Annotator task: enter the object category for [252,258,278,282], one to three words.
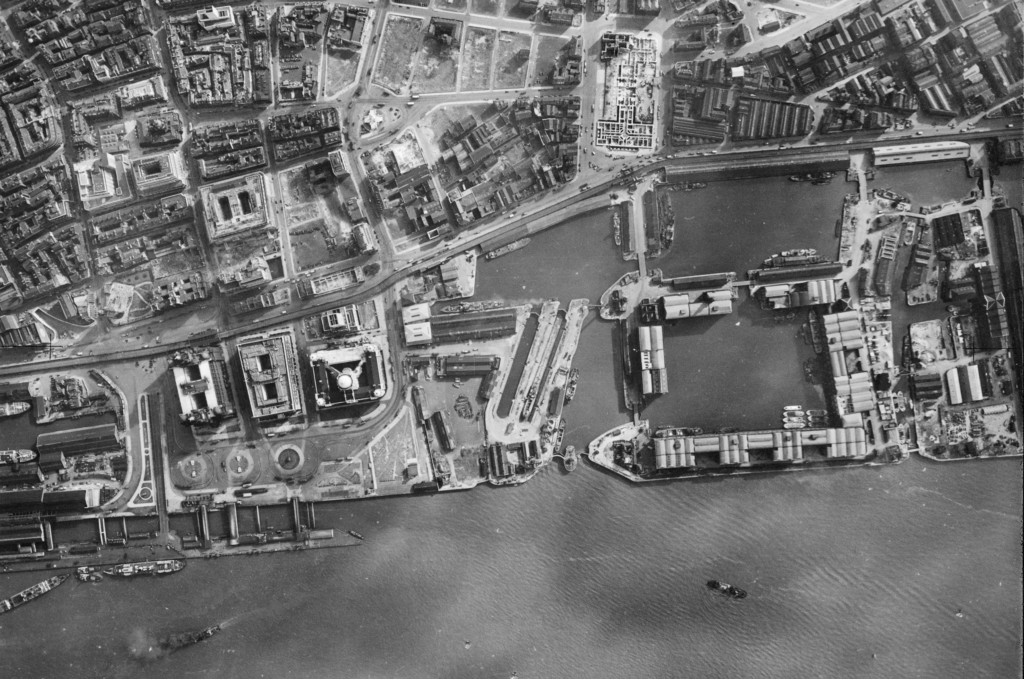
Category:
building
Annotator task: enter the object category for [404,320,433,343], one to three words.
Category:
shed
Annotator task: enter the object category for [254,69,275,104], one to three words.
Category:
building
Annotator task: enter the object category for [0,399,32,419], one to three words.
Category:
ship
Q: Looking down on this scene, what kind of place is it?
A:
port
